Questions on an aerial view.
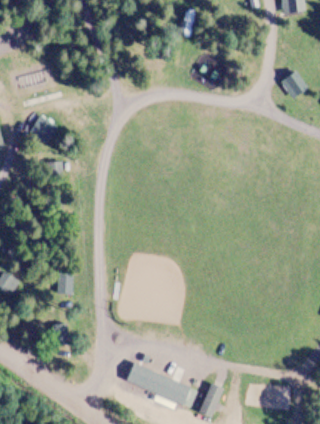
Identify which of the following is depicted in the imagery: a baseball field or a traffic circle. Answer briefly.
baseball field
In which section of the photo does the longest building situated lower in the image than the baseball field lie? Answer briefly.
bottom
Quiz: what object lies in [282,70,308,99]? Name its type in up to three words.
building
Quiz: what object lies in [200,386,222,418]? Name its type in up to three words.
shed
